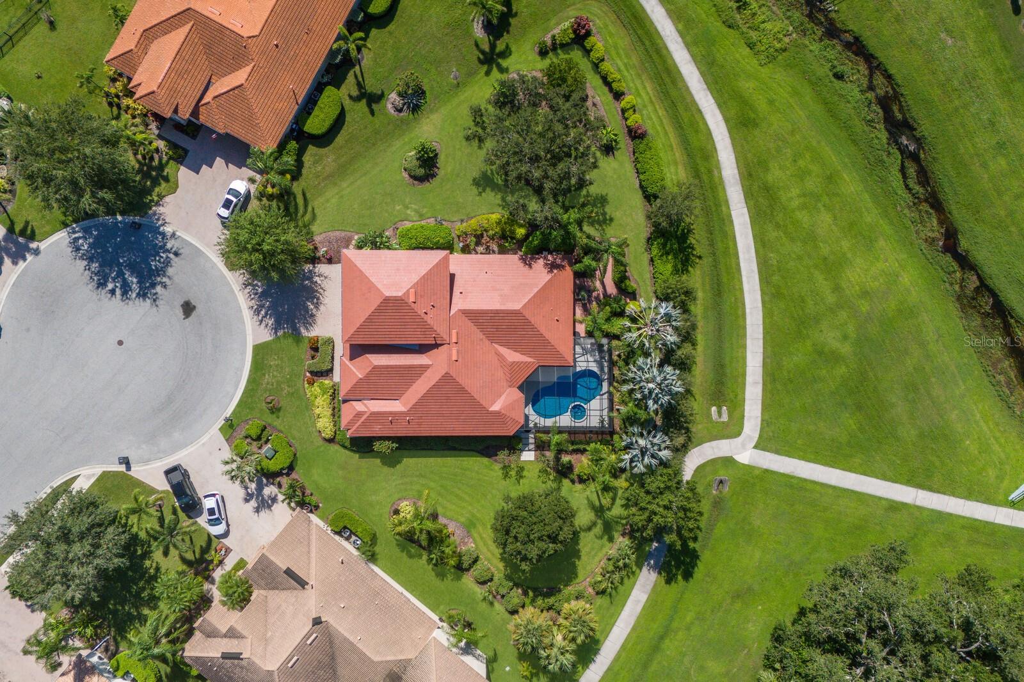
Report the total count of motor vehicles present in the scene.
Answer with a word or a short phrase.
3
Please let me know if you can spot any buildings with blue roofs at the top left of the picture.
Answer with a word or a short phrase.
No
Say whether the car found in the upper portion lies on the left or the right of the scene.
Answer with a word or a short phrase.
left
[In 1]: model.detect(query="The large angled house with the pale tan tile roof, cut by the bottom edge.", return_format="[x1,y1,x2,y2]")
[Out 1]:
[183,508,491,682]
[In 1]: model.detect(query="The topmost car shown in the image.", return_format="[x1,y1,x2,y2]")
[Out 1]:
[218,179,251,224]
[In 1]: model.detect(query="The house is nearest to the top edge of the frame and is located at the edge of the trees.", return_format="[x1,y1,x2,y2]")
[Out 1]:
[103,0,360,153]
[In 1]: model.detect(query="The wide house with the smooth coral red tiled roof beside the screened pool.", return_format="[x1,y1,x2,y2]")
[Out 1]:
[339,250,574,437]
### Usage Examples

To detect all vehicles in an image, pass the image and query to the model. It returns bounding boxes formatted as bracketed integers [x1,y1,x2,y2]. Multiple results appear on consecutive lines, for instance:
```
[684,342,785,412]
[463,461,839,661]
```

[204,490,231,536]
[218,179,251,224]
[164,460,205,516]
